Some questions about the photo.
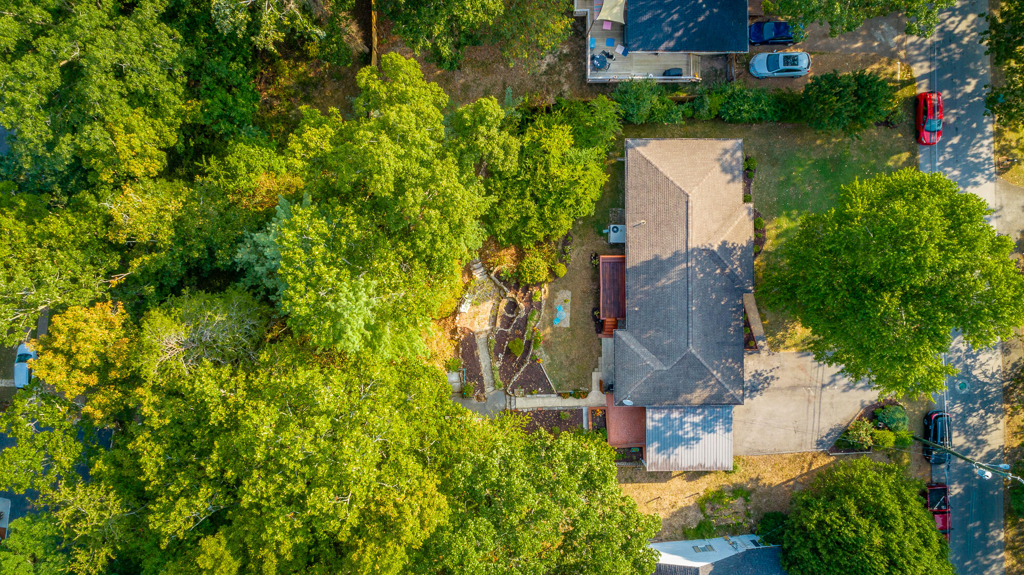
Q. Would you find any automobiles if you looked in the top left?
No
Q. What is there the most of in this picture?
trees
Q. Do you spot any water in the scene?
No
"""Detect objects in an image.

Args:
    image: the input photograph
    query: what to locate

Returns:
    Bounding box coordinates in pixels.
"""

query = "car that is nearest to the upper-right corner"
[915,90,947,145]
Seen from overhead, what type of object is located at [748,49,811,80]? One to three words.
car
